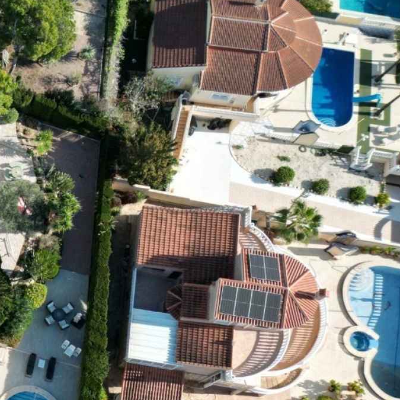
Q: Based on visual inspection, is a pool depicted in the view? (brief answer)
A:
Yes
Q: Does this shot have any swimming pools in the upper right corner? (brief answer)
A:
Yes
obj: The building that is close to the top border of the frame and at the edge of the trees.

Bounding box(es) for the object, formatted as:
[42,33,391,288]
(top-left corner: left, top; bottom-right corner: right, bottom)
[142,0,323,126]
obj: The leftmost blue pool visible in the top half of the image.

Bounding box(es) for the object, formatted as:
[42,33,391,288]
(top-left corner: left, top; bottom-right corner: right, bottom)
[307,44,359,131]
